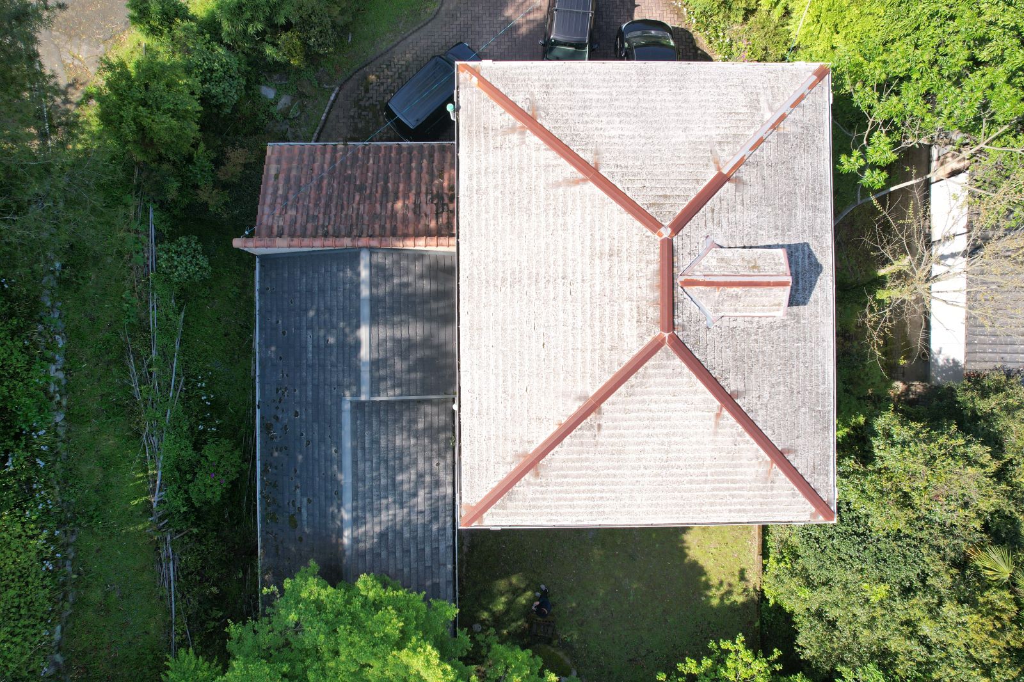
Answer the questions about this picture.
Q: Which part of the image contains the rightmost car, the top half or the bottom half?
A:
top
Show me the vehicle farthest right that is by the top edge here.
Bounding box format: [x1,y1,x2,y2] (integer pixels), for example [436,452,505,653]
[618,17,680,60]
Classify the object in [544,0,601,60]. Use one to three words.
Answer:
car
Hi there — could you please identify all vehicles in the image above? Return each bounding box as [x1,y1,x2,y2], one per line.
[544,0,601,60]
[384,32,495,141]
[618,17,680,60]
